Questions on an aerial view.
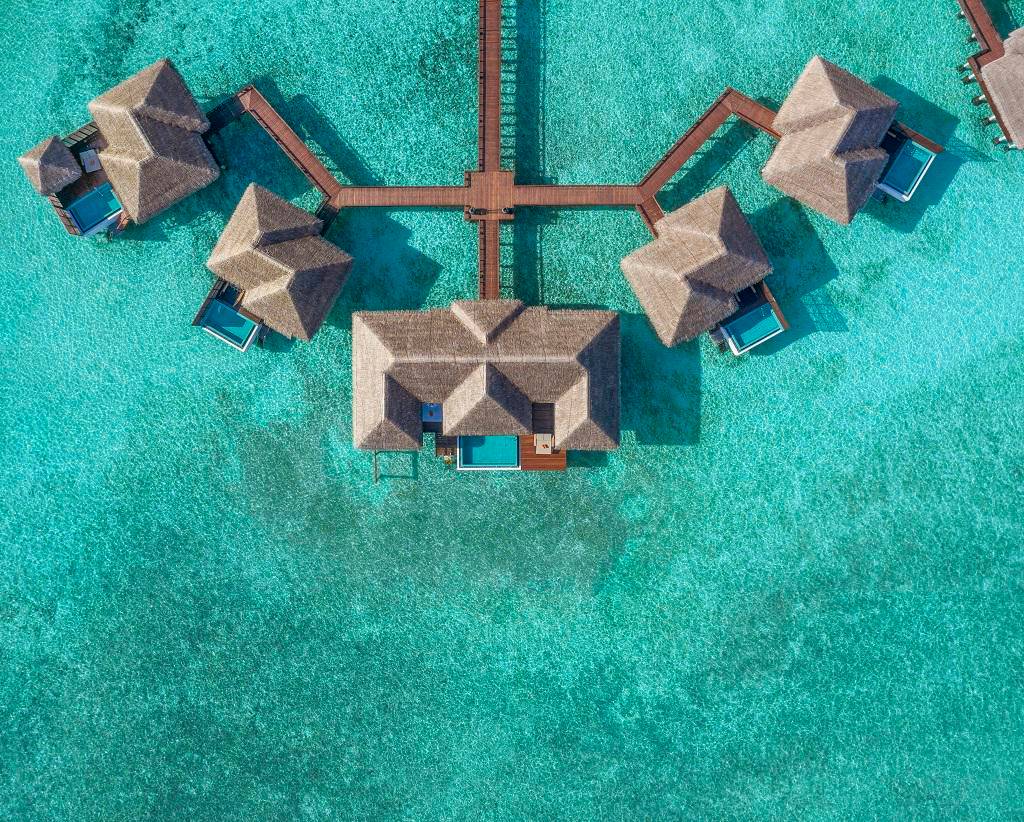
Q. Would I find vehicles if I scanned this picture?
No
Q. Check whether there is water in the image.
Yes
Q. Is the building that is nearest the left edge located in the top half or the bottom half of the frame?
top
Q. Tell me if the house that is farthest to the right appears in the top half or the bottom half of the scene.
top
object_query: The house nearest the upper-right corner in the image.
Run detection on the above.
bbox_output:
[954,11,1024,154]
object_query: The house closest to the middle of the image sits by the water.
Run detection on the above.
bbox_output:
[351,300,622,451]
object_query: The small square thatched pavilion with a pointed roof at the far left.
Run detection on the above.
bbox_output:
[17,136,83,197]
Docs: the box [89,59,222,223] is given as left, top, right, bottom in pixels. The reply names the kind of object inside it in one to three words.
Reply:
house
